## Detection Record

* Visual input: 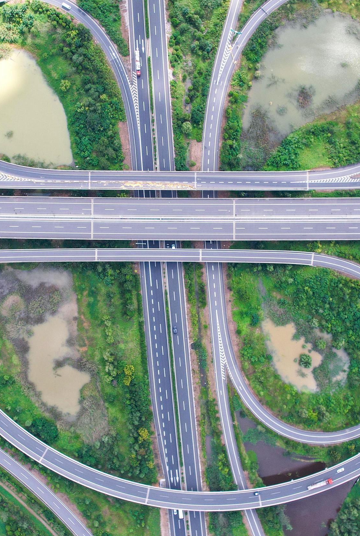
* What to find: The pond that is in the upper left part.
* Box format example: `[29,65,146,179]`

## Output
[0,45,75,170]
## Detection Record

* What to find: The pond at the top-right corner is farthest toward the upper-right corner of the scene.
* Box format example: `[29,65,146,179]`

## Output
[241,8,360,151]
